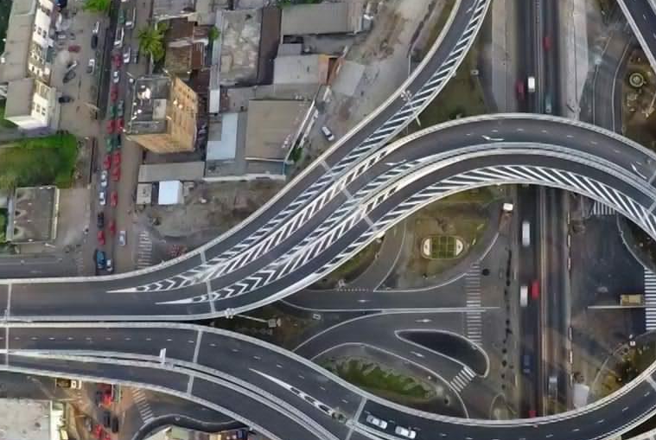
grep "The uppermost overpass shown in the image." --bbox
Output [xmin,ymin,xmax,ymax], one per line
[0,0,656,321]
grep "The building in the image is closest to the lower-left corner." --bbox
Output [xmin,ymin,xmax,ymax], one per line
[0,399,66,440]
